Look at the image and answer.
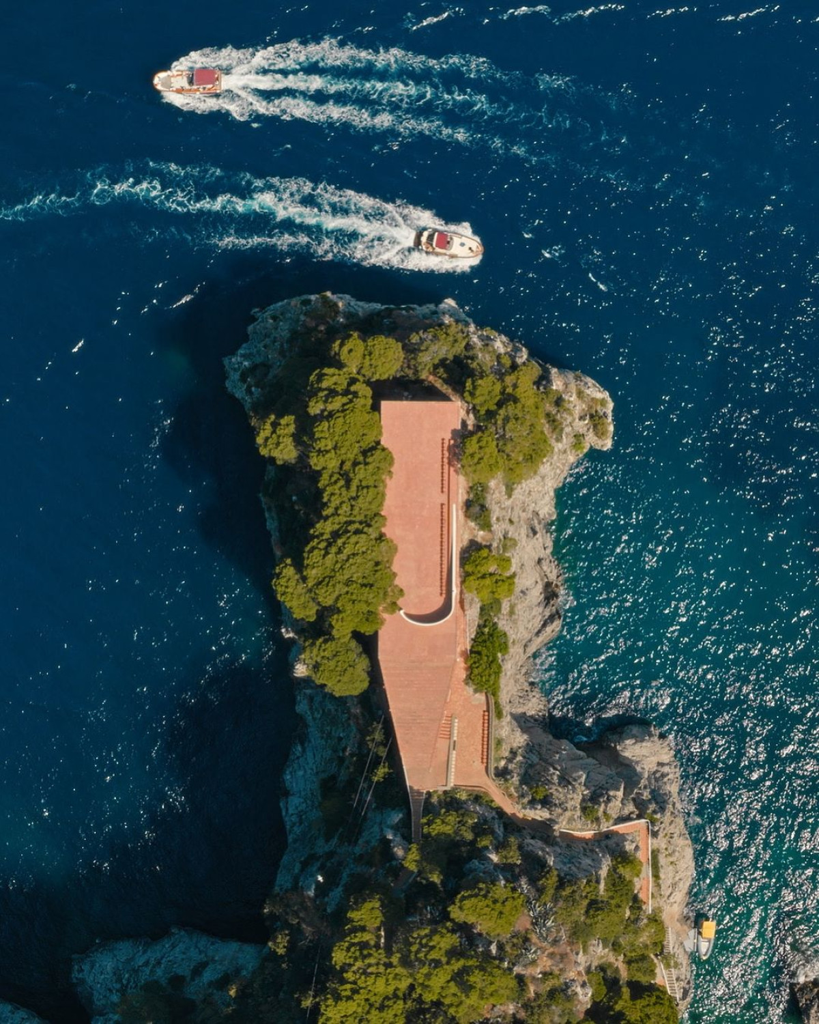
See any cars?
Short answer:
No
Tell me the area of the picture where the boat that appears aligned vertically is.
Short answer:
bottom right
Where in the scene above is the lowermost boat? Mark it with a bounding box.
[697,913,718,963]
